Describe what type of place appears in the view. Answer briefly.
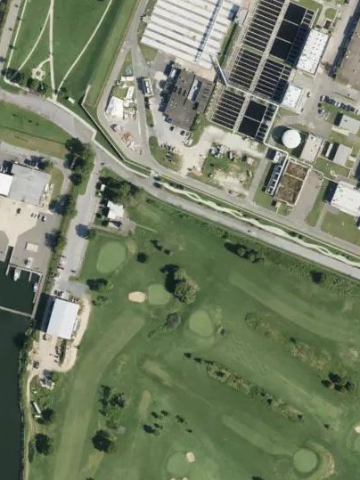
golf course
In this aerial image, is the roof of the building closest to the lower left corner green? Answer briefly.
No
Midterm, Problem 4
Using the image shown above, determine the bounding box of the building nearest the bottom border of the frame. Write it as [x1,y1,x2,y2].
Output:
[47,298,80,339]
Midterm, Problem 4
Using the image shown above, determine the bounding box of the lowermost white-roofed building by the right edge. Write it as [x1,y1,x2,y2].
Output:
[332,183,360,216]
